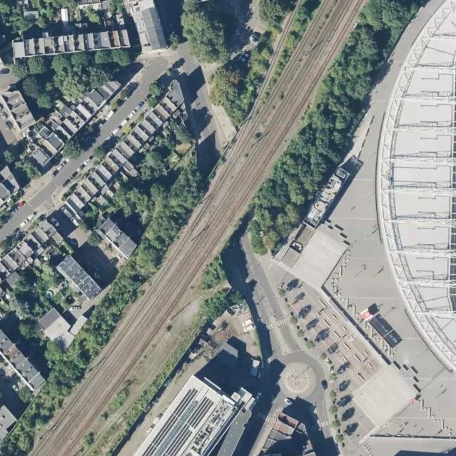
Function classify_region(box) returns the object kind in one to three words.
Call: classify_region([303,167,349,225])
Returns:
building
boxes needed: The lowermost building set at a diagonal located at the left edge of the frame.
[0,338,43,394]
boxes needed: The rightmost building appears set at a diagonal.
[369,316,401,348]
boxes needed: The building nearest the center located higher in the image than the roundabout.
[280,226,314,268]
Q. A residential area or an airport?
residential area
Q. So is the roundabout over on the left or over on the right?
right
